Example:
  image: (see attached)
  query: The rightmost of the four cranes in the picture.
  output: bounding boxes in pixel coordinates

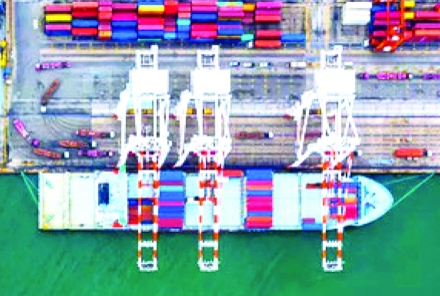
[373,0,407,52]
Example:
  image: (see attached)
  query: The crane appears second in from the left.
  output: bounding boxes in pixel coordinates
[168,36,231,272]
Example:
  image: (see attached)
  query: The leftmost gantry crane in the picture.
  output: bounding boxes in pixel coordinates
[112,36,171,272]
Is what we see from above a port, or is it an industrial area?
port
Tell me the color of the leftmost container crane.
white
